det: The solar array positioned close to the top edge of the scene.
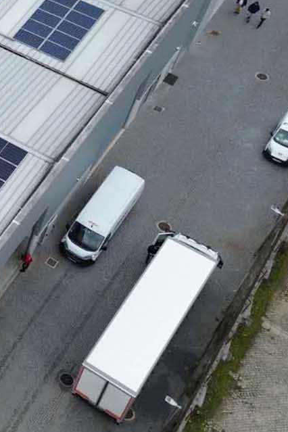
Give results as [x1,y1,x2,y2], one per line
[14,0,103,62]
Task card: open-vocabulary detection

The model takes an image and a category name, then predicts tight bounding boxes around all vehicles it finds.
[61,166,146,272]
[65,230,222,427]
[264,114,288,170]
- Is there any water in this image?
No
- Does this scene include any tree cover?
No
